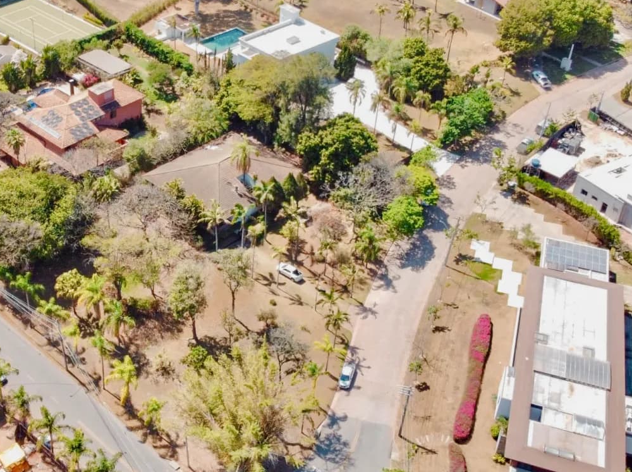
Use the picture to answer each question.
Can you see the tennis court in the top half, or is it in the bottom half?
top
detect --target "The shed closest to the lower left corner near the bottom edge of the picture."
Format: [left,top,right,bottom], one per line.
[0,444,27,472]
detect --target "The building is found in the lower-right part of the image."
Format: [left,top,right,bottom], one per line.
[490,238,632,472]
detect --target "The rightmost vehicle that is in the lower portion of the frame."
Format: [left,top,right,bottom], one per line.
[338,361,356,389]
